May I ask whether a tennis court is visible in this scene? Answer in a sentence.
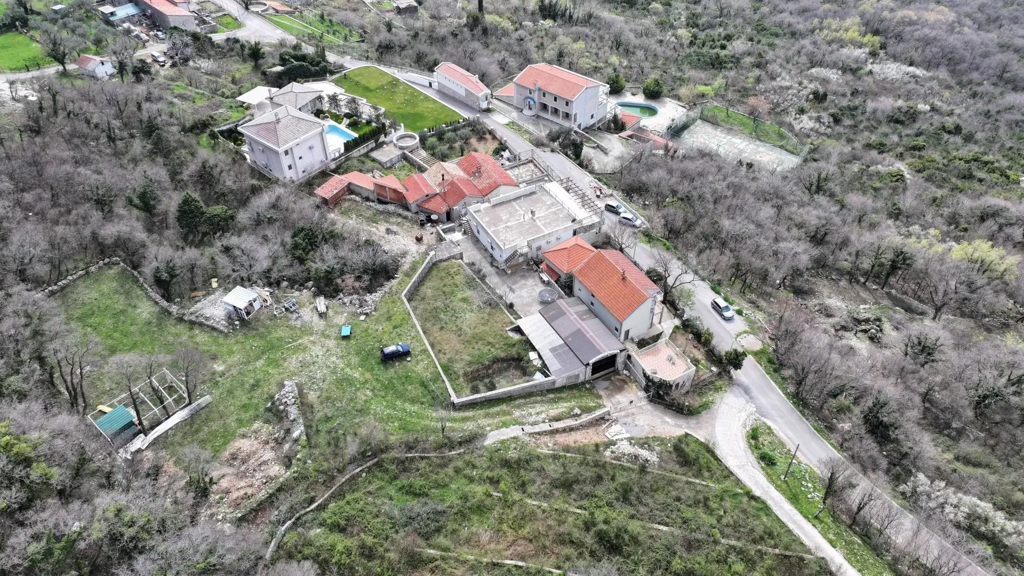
Yes, there's a tennis court here.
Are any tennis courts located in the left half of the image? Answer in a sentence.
No, looking in the left half of the image, there is no tennis court.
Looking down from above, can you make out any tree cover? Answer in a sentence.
Yes, some tree cover is visible.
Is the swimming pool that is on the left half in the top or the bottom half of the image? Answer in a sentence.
You can find the swimming pool that is on the left half in the top half.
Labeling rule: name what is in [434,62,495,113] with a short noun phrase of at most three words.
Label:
building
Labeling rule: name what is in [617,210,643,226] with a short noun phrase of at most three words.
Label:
car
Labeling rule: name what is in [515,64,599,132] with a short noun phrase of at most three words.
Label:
house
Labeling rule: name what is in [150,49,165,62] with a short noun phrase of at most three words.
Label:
vehicle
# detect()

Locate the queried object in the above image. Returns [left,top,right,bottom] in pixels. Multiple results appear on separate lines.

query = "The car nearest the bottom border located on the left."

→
[380,344,411,362]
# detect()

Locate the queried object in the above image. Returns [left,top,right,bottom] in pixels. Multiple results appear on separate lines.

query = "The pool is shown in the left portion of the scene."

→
[323,121,351,141]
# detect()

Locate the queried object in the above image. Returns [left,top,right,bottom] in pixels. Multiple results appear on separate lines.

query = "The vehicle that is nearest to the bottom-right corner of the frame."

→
[711,297,737,319]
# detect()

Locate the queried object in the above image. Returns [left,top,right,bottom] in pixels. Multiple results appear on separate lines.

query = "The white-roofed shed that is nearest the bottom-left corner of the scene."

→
[220,286,262,320]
